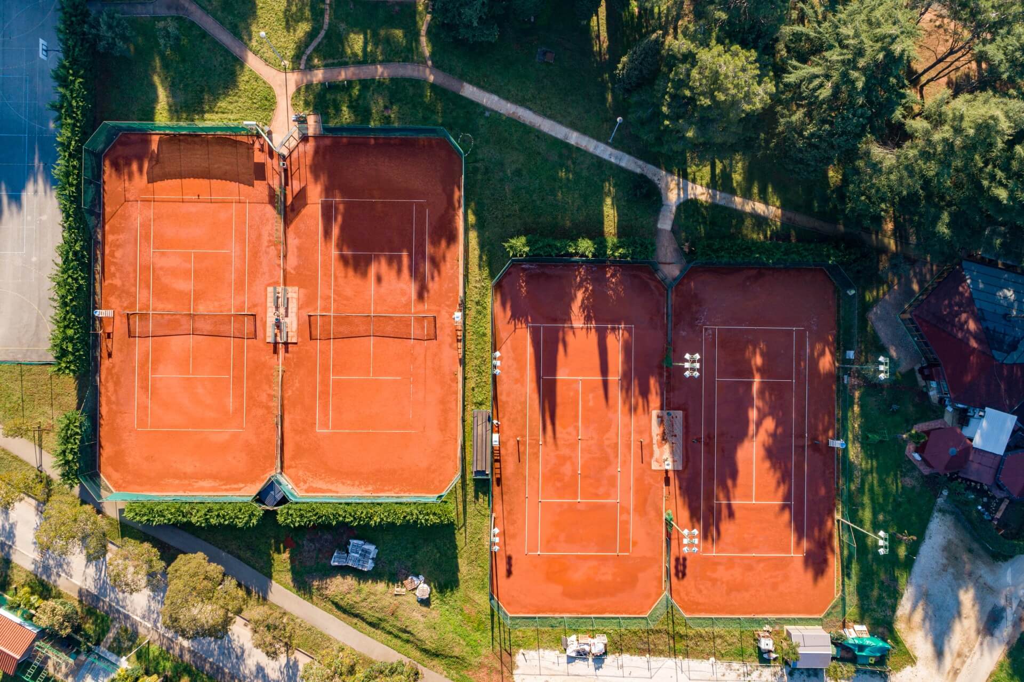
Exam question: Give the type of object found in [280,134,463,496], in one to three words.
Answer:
tennis court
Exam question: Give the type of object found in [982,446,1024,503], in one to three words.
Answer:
building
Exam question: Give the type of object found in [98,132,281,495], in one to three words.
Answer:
tennis court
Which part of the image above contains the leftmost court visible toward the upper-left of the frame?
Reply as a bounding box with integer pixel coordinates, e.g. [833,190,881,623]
[0,0,69,364]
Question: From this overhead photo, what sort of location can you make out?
sports ground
